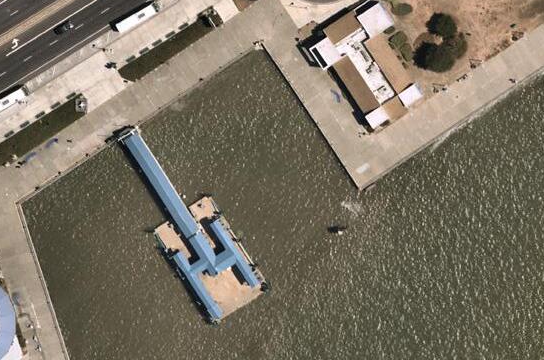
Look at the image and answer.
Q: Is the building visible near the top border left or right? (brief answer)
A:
right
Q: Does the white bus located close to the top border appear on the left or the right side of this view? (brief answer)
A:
left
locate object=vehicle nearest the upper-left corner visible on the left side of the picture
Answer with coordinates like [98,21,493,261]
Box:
[54,20,73,34]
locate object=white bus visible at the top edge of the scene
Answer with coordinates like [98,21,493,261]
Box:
[115,0,160,33]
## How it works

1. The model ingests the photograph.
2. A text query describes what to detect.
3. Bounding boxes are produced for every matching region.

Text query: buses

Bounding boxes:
[0,84,29,111]
[115,0,160,33]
